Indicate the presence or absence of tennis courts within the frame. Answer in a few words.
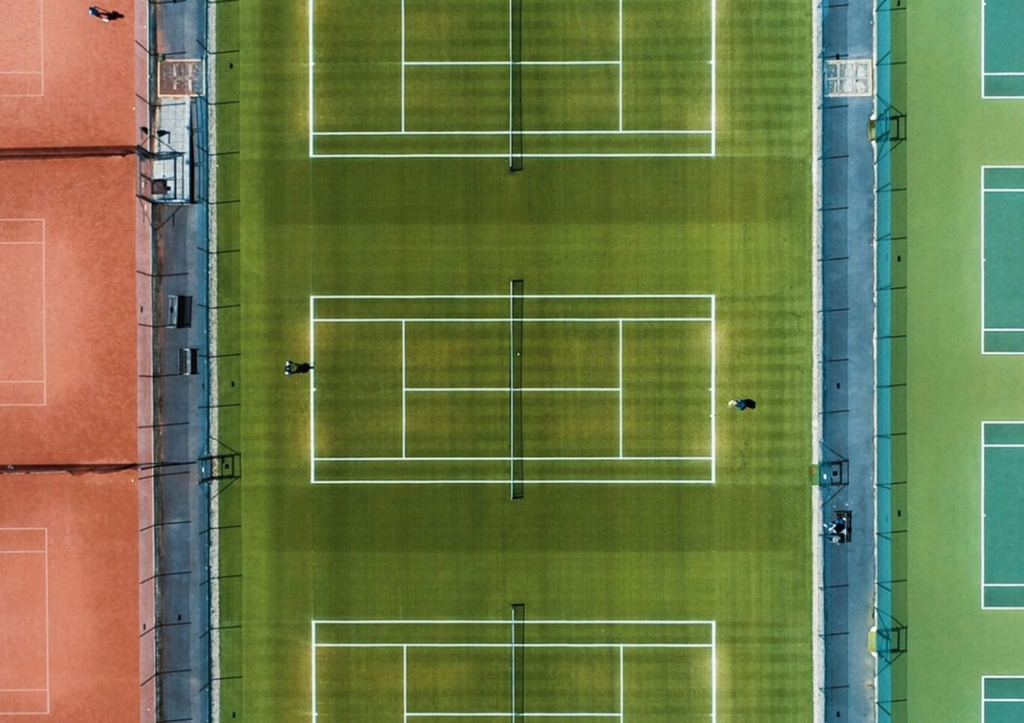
Yes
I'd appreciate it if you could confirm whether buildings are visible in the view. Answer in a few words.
No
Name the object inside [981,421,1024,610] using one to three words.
tennis court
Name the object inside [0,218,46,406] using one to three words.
tennis court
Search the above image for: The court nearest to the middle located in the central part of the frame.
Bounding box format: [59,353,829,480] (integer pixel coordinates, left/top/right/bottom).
[310,295,715,484]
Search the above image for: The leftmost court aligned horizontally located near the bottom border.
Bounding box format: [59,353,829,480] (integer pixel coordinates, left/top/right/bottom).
[311,621,716,723]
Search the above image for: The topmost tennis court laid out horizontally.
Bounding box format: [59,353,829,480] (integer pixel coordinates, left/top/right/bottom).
[309,0,715,158]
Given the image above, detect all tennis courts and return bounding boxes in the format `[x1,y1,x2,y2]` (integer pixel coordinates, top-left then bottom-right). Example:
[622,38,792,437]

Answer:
[309,0,715,158]
[311,621,716,723]
[310,295,715,484]
[981,421,1024,610]
[981,676,1024,723]
[981,165,1024,355]
[981,0,1024,98]
[0,218,46,406]
[0,0,43,96]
